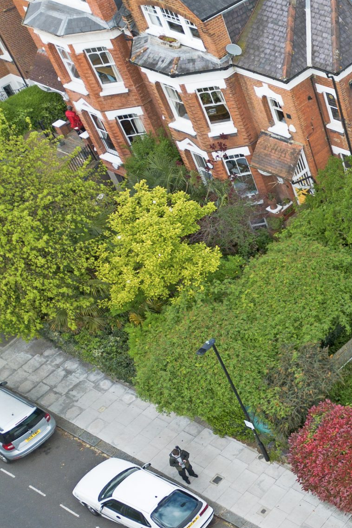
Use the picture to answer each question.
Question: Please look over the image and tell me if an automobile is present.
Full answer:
Yes, the photo shows an automobile.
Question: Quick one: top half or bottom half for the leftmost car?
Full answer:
The leftmost car sits in the bottom half of the picture.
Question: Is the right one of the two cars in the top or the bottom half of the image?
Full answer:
The right one of the two cars is in the bottom half of the image.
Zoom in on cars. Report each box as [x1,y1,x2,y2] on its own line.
[0,386,60,463]
[76,458,221,528]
